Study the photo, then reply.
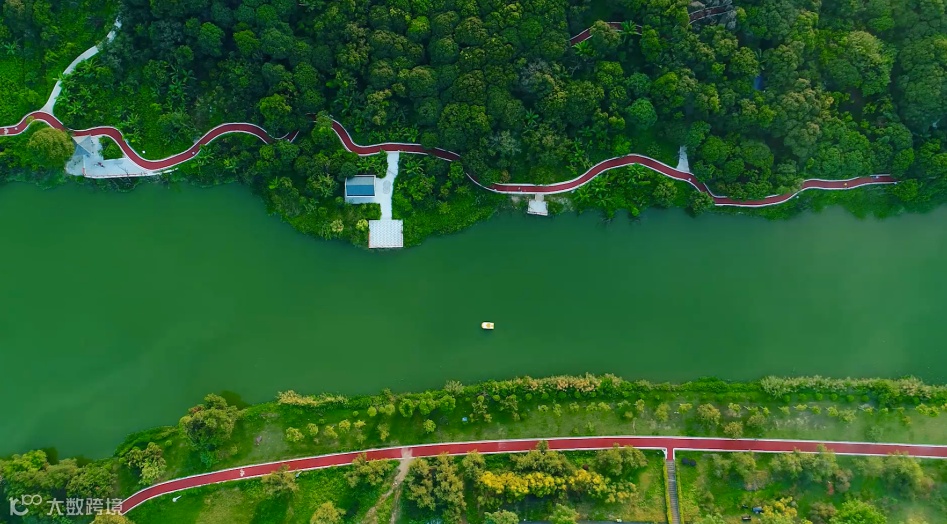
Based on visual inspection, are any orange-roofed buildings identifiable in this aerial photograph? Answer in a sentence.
No, I can't see a single orange-roofed building in this photo.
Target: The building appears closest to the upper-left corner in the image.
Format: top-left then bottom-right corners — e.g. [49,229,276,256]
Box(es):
[72,137,95,156]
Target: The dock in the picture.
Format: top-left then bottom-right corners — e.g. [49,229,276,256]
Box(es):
[527,196,548,215]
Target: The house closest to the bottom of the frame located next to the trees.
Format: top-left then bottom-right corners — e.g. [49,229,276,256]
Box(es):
[345,175,377,198]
